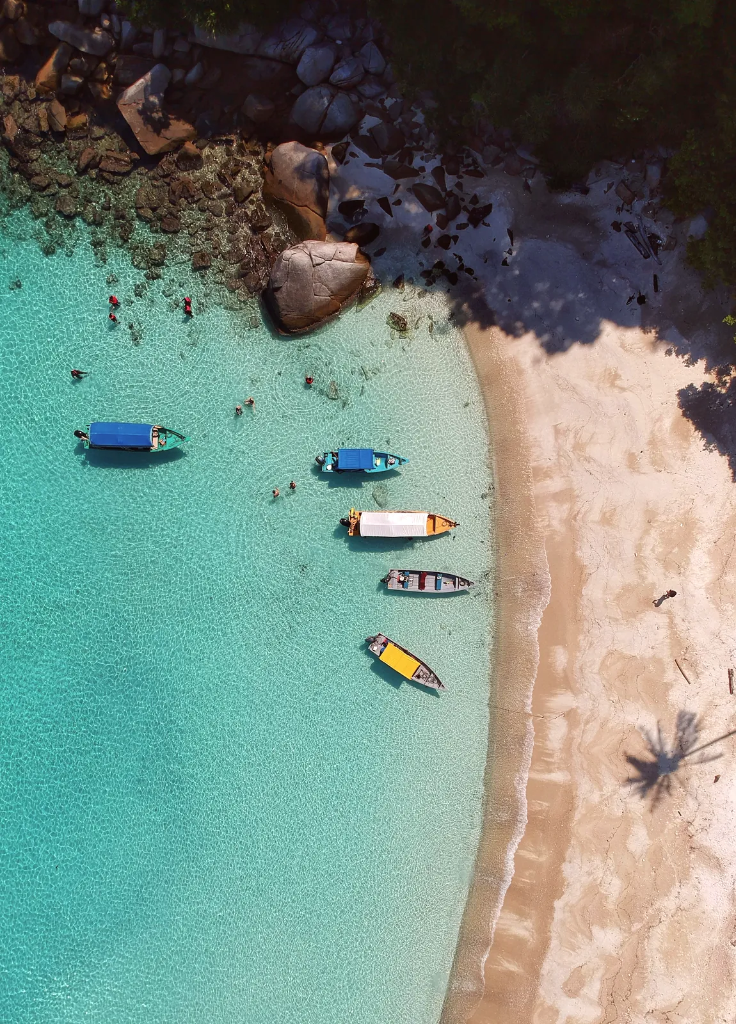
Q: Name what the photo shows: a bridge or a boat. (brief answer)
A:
boat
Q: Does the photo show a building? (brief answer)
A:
No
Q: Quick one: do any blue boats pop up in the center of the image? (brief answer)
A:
Yes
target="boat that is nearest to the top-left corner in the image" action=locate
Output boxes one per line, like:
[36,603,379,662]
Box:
[75,423,192,455]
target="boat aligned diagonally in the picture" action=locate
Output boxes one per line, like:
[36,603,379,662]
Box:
[367,634,446,690]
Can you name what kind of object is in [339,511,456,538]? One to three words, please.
boat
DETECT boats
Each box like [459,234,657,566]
[378,570,476,594]
[75,423,192,455]
[367,634,446,690]
[313,448,409,474]
[339,511,456,538]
